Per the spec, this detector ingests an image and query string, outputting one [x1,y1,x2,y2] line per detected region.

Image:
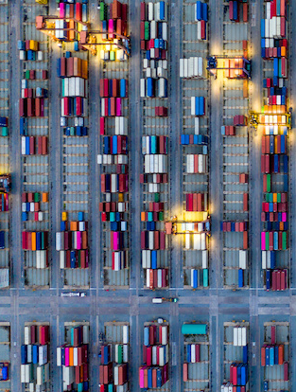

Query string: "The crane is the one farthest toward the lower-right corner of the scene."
[164,217,214,238]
